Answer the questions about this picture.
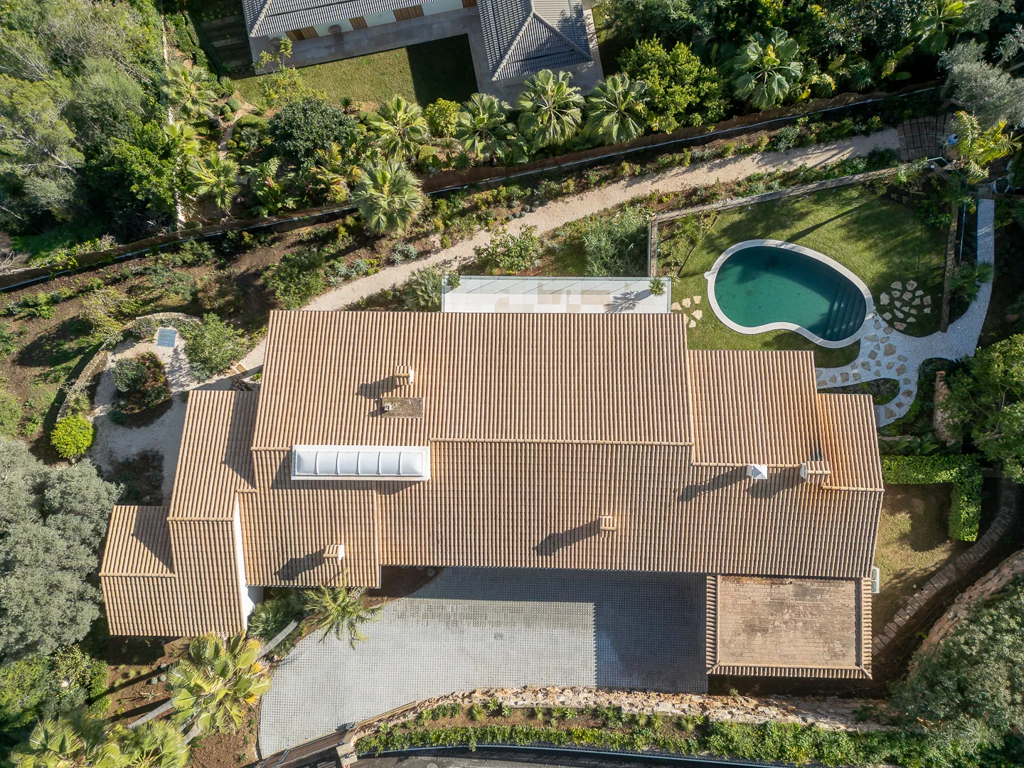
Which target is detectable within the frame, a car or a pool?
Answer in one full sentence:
This aerial view contains a pool.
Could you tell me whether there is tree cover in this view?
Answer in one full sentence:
Yes, the picture does contain tree cover.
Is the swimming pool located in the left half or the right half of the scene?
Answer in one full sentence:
The swimming pool is on the right side of the image.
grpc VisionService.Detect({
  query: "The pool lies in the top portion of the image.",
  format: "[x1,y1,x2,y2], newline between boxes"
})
[702,239,874,348]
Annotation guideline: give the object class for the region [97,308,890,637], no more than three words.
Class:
house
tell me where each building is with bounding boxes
[249,0,594,82]
[97,308,890,637]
